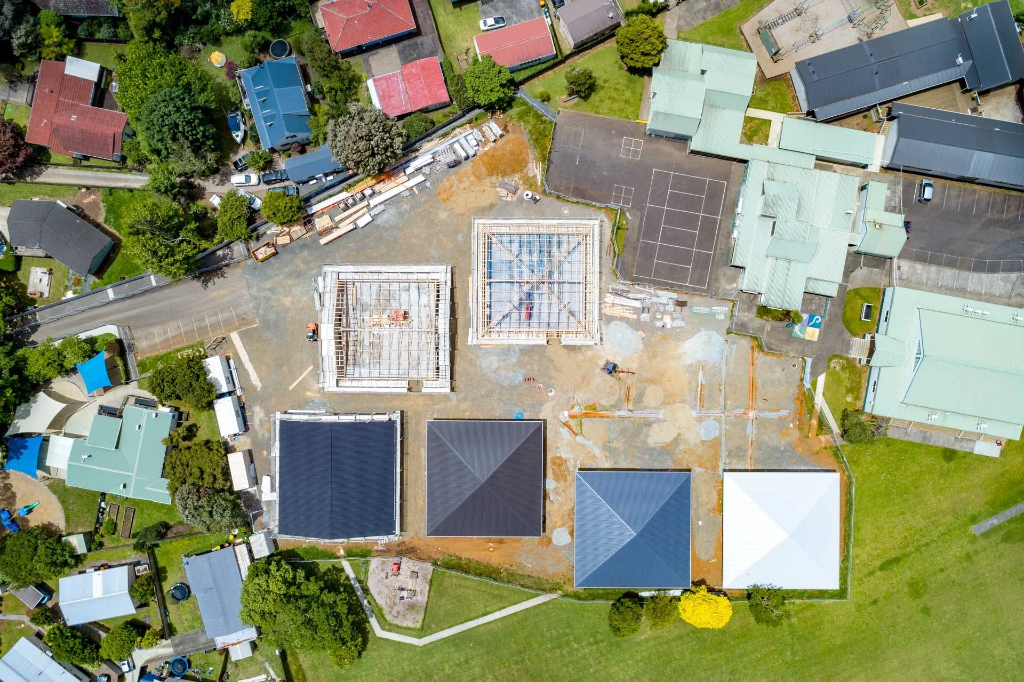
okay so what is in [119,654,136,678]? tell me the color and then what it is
white car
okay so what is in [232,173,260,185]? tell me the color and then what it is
white vehicle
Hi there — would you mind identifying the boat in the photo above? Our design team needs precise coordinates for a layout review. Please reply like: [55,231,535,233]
[224,101,242,146]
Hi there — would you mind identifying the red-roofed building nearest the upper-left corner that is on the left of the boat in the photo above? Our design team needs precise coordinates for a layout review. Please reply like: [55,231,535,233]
[27,55,133,163]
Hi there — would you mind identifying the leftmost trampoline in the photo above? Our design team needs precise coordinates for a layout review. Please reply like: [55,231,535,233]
[167,582,189,602]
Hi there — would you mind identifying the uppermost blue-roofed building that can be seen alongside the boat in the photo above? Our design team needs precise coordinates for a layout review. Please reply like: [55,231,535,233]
[236,55,311,150]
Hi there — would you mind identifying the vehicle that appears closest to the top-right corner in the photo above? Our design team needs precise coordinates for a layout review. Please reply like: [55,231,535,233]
[917,179,932,204]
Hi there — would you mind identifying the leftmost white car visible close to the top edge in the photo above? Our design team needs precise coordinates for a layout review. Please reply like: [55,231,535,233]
[479,15,505,31]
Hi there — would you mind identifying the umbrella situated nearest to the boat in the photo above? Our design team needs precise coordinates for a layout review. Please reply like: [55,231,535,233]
[210,51,227,68]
